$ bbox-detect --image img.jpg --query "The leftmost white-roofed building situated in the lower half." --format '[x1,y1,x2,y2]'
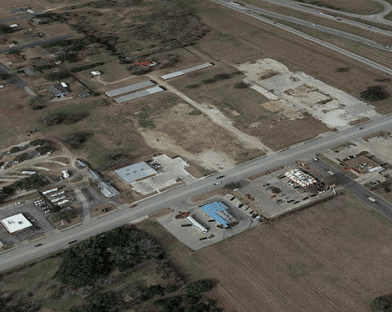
[3,212,34,237]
